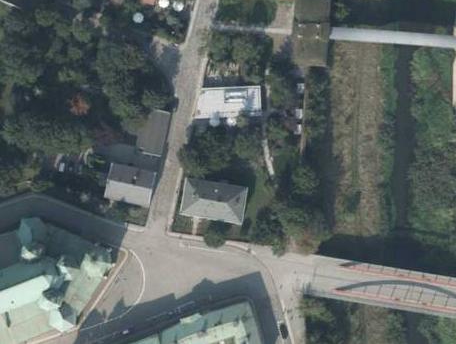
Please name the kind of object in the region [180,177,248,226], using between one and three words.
house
